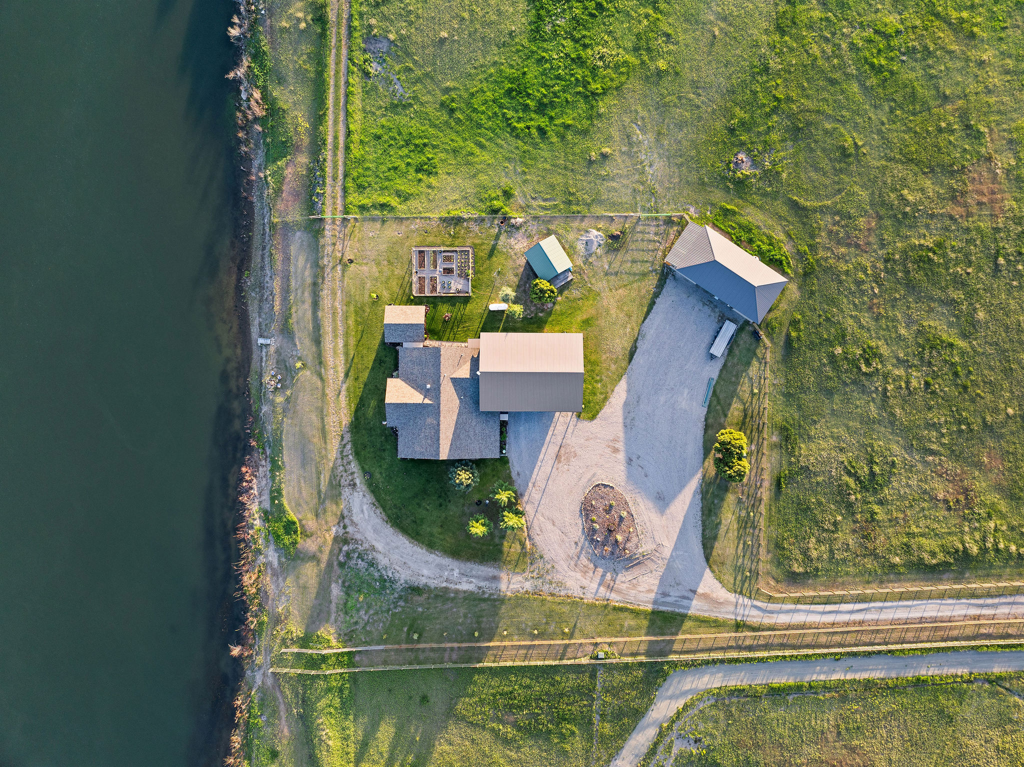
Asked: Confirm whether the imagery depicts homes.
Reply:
Yes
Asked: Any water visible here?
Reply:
Yes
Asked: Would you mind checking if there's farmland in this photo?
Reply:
Yes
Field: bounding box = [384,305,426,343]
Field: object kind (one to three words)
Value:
shed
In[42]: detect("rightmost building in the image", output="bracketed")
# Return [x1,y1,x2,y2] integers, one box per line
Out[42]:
[665,222,789,325]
